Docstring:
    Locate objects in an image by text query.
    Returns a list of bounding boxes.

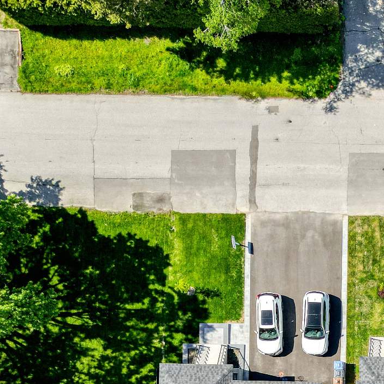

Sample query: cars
[252,291,284,355]
[298,290,331,356]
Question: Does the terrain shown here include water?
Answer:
No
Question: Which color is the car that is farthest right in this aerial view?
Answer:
white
